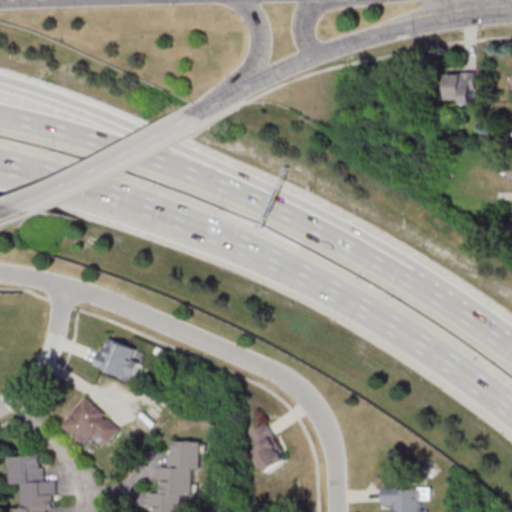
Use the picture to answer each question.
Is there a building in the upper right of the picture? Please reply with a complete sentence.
Yes, in the upper right of the picture there is a building.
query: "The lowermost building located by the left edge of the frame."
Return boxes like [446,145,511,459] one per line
[6,458,56,512]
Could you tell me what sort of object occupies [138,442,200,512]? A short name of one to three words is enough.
house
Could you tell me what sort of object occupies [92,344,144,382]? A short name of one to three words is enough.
house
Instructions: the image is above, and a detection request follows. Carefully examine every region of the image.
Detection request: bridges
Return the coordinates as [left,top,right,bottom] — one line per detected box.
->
[0,104,202,226]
